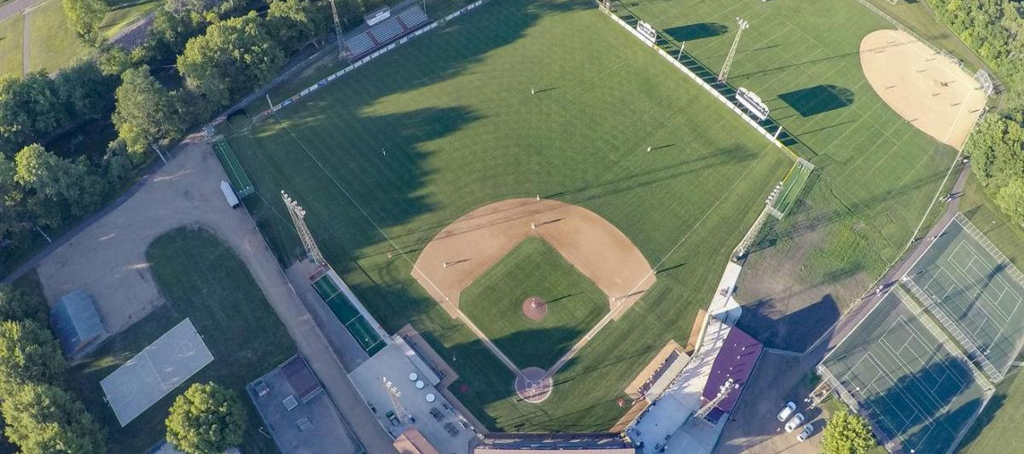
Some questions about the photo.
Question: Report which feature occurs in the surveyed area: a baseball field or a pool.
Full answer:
I can see a baseball field in this picture.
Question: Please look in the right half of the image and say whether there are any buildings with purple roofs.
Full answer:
Yes, a building with a purple roof is visible in the right half of the image.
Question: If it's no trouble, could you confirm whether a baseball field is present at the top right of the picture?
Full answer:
Yes, a baseball field shows up at the top right of the picture.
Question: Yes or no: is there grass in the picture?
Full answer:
Yes, some grass is visible.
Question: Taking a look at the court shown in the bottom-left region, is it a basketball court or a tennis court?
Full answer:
I'd say the court shown in the bottom-left region is a basketball court.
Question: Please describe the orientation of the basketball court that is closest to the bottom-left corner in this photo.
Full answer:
I'd say the basketball court that is closest to the bottom-left corner is aligned on a diagonal in the picture.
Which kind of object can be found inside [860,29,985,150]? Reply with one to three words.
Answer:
baseball field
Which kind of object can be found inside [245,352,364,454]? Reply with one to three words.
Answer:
building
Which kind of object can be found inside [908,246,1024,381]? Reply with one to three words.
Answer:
tennis court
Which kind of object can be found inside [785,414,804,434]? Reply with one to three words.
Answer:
car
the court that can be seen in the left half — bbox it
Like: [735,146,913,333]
[101,318,214,427]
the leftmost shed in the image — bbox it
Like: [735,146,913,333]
[53,290,114,360]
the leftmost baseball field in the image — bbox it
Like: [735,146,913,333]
[226,0,798,434]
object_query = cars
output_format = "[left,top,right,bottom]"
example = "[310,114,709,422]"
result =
[797,425,814,444]
[777,403,796,423]
[785,414,804,434]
